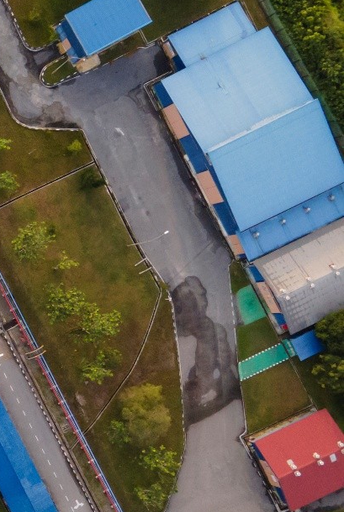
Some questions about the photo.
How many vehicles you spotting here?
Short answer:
0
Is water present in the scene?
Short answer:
No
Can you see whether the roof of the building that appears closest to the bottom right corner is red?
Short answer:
Yes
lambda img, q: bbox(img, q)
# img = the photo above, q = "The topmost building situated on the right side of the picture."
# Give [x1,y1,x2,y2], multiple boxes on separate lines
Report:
[144,0,344,265]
